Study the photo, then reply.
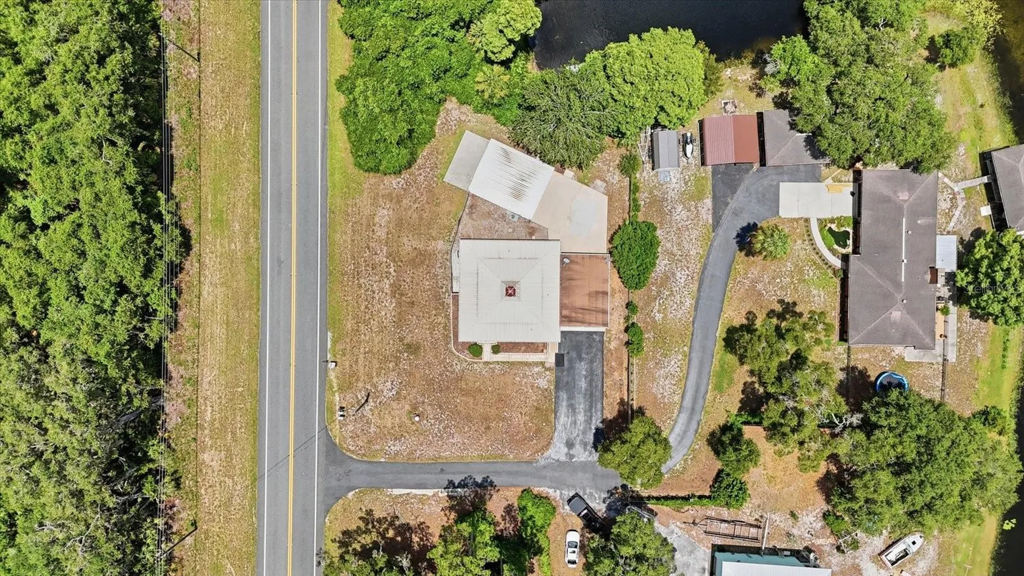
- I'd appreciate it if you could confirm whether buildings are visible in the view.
Yes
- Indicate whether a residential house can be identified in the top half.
Yes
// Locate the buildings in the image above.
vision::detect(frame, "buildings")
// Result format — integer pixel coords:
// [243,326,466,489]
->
[698,115,759,166]
[469,139,554,219]
[714,550,831,576]
[458,238,609,344]
[840,169,938,350]
[984,144,1024,231]
[760,109,832,166]
[651,130,679,171]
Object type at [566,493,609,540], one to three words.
truck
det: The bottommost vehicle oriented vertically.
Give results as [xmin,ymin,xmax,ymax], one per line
[564,530,581,570]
